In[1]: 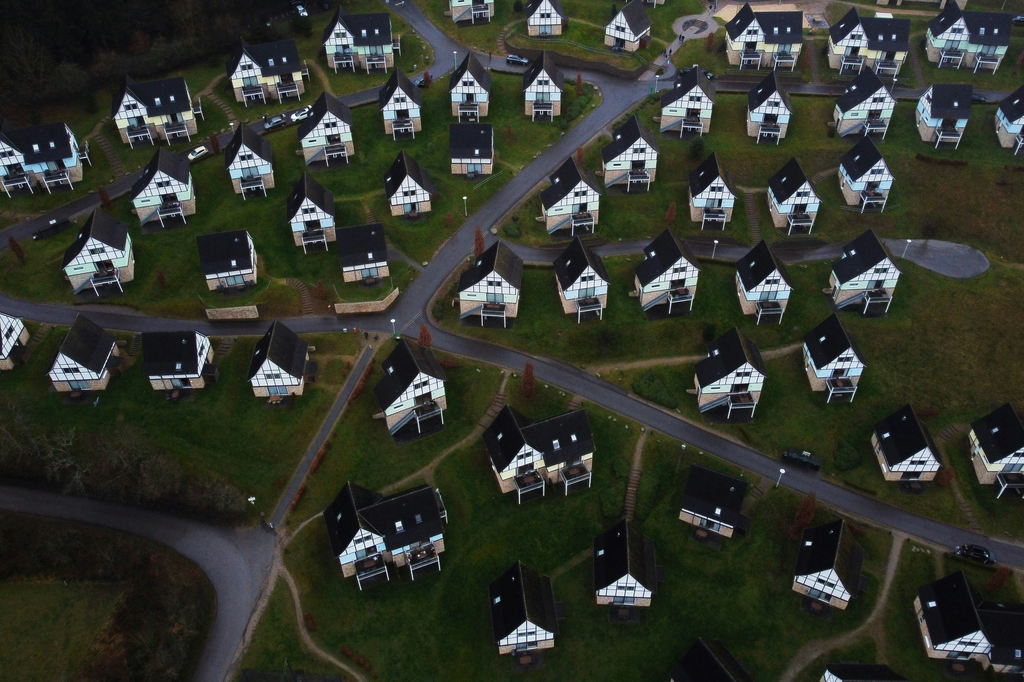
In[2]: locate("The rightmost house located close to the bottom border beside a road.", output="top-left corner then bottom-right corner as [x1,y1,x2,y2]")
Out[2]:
[915,573,1024,681]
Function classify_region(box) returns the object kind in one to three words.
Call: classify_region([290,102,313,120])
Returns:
car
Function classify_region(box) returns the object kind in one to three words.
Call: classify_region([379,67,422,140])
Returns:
house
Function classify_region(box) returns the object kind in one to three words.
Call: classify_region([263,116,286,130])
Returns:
car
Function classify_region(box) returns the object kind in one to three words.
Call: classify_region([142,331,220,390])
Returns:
house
